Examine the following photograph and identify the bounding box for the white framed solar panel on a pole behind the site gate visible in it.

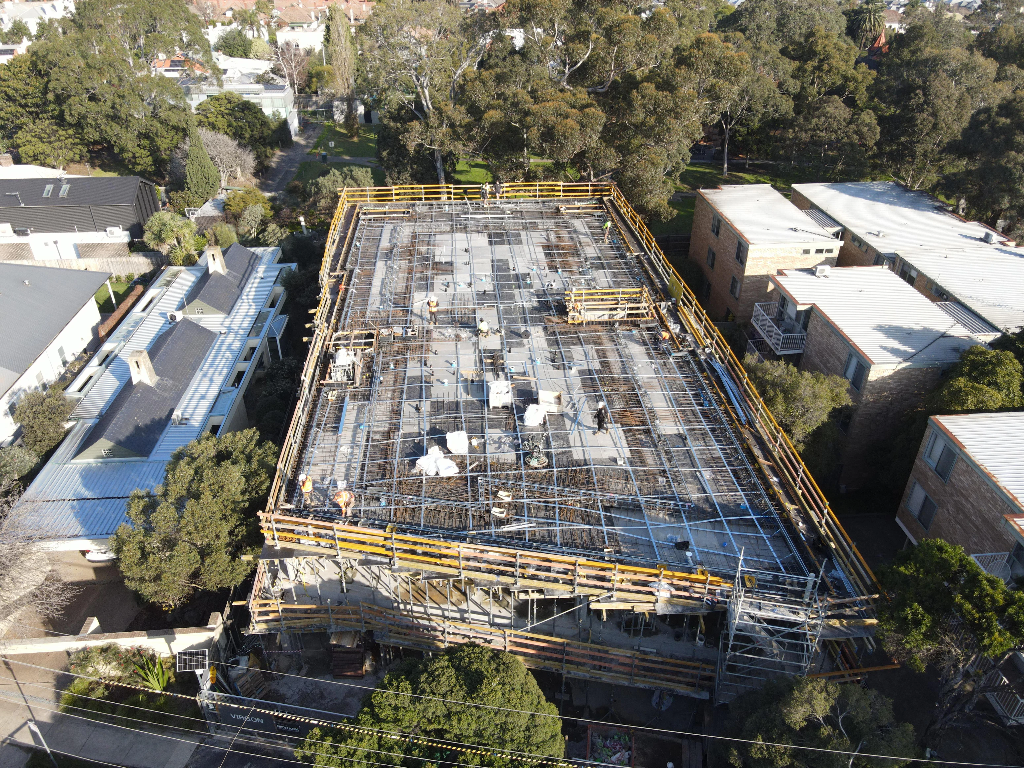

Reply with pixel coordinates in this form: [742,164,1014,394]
[175,647,210,707]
